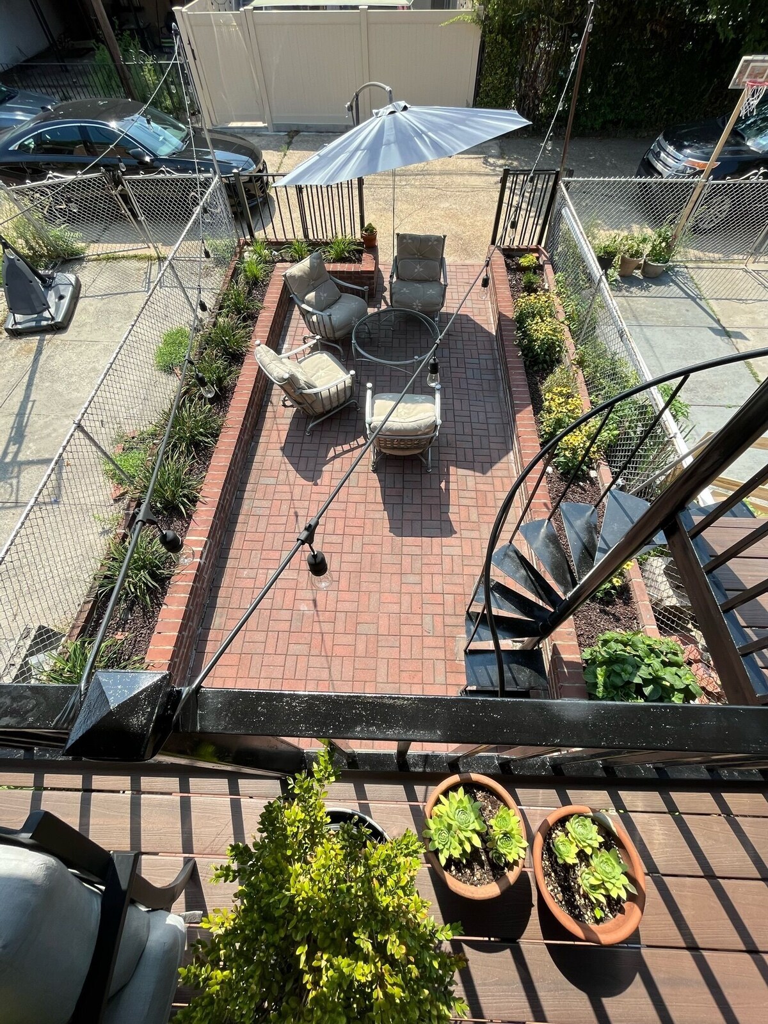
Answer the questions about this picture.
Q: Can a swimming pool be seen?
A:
No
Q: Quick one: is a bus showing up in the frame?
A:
No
